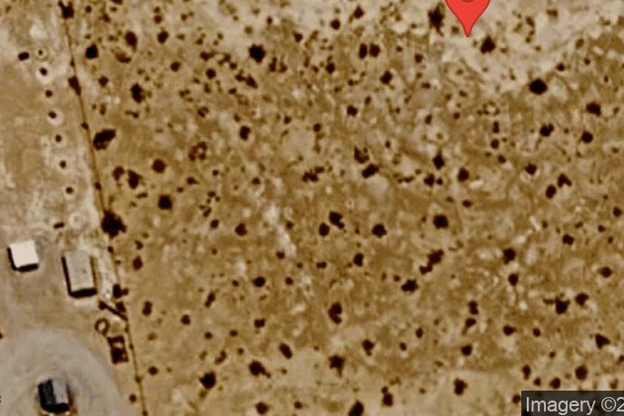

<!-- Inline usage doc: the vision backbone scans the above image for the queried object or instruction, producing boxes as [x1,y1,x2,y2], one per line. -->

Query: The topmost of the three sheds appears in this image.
[8,240,39,269]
